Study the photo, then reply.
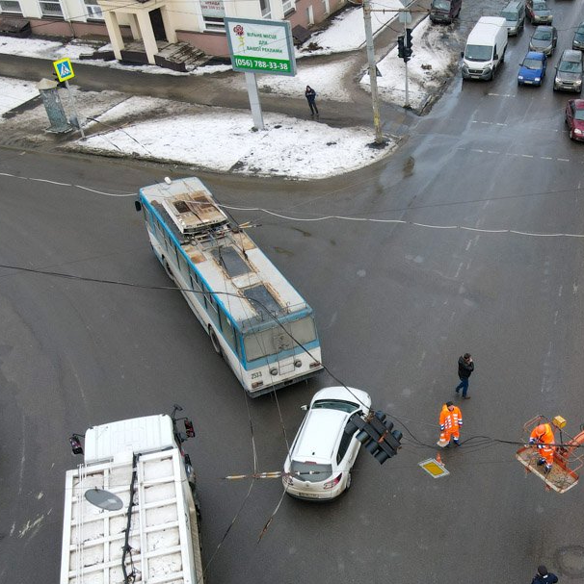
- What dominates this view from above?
paved ground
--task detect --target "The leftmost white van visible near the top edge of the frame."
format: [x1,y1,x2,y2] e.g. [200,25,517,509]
[464,17,510,80]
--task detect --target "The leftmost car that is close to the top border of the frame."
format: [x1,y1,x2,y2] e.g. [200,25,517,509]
[431,0,461,22]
